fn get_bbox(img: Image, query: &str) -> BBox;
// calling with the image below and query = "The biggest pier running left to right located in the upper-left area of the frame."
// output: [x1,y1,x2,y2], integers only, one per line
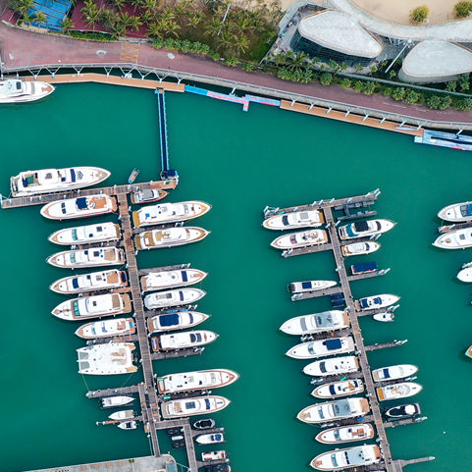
[29,67,184,93]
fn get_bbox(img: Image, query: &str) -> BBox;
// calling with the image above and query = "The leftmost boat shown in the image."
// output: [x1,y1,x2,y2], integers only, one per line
[0,74,56,102]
